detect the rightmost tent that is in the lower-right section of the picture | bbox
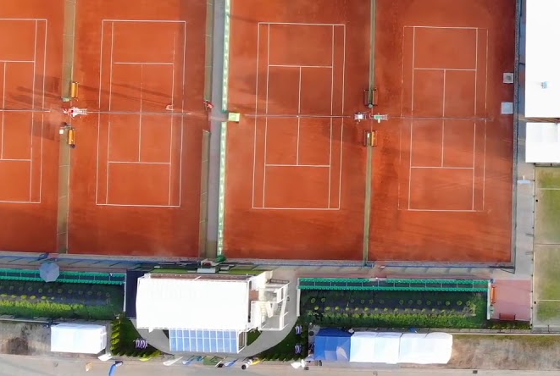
[400,327,453,363]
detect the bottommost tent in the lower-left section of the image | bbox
[52,318,113,355]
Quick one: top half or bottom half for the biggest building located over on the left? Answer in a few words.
bottom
